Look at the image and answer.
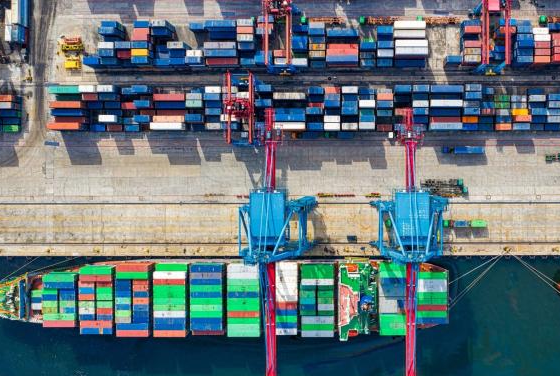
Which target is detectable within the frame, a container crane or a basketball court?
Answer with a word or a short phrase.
container crane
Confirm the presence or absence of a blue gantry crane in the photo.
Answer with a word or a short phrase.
Yes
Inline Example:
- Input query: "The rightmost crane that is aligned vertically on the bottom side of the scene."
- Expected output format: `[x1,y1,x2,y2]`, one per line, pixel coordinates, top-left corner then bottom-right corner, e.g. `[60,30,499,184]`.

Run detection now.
[367,109,451,376]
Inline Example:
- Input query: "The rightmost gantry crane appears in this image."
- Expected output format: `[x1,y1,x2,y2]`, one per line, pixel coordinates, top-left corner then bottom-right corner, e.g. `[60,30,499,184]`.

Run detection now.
[469,0,513,77]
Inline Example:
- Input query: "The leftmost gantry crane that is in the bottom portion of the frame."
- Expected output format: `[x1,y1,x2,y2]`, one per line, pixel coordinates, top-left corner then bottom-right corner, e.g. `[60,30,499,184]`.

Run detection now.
[237,110,318,376]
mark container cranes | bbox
[224,71,265,150]
[237,110,318,376]
[469,0,513,77]
[367,109,451,376]
[261,0,300,78]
